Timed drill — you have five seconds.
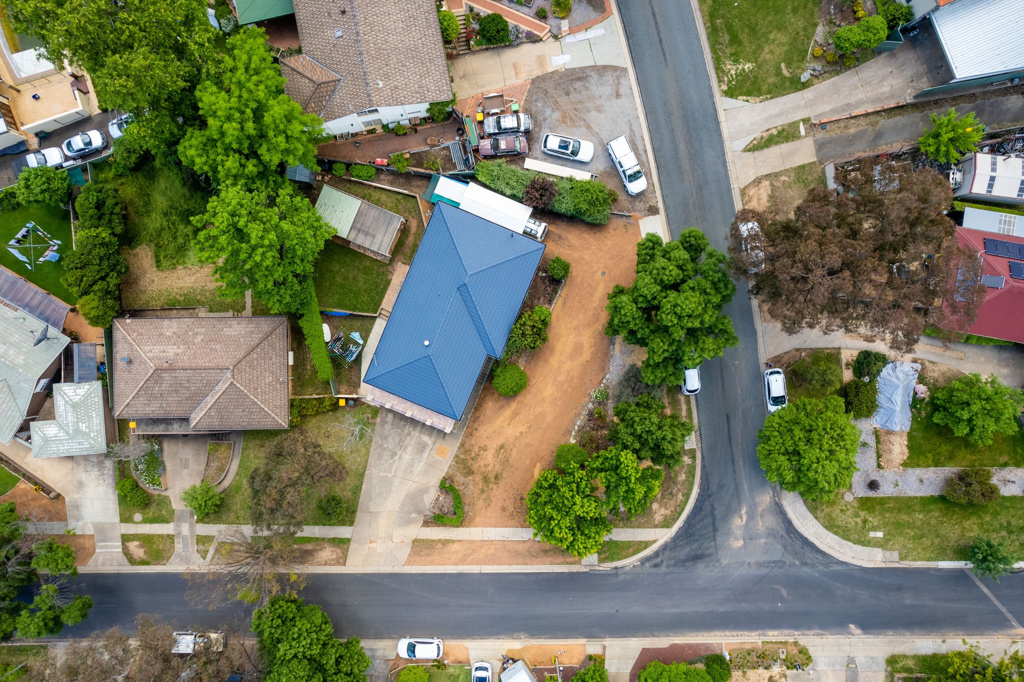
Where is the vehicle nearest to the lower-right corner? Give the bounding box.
[767,368,791,417]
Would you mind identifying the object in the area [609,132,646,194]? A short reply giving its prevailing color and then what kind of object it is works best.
white truck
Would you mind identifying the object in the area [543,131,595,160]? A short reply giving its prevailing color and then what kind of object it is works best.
white car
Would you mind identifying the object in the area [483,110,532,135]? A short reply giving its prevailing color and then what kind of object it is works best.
white car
